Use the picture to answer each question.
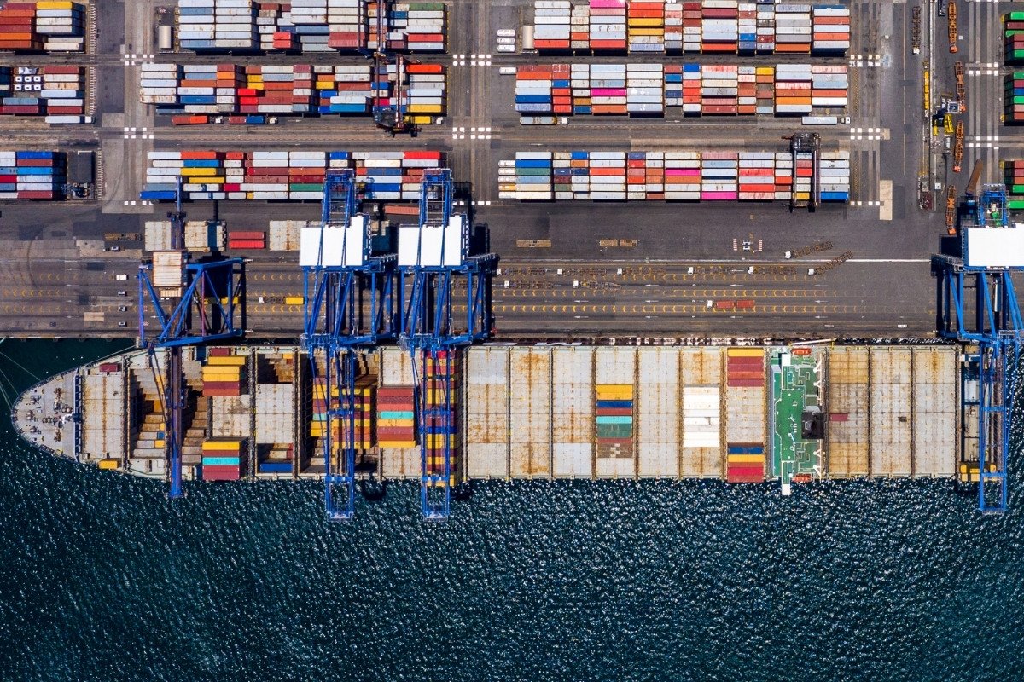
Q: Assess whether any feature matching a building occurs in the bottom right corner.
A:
No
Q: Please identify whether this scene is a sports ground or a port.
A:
port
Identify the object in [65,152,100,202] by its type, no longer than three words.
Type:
building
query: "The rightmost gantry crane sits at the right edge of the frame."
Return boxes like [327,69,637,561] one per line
[930,183,1024,516]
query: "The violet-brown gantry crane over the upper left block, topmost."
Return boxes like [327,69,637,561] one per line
[357,0,398,65]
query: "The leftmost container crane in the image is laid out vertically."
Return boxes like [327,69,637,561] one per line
[127,170,257,500]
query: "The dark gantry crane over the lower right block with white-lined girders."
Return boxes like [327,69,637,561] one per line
[787,132,820,215]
